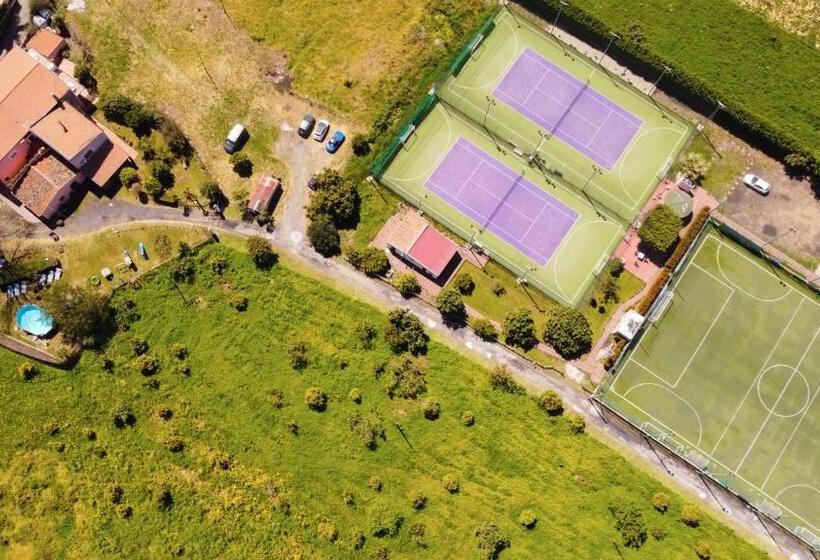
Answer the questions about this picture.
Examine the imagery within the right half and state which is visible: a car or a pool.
car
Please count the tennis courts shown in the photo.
two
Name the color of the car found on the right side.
white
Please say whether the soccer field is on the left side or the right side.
right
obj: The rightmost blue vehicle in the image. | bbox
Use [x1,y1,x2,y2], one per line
[326,130,344,154]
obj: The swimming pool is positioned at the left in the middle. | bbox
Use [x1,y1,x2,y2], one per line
[15,304,55,338]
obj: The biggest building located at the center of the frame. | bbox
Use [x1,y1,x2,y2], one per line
[386,213,458,281]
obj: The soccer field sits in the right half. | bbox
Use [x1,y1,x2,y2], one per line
[596,221,820,550]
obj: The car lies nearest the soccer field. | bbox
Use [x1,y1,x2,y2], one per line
[742,175,772,195]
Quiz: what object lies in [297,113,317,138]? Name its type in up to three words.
car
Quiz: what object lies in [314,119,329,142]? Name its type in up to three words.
car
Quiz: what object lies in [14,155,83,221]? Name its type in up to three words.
house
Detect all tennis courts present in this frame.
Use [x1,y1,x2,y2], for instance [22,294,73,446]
[372,93,634,313]
[438,4,698,219]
